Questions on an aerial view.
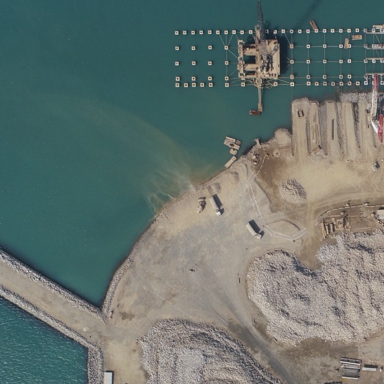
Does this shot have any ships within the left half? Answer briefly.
No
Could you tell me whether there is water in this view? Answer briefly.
Yes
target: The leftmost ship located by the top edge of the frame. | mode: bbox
[236,1,279,80]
